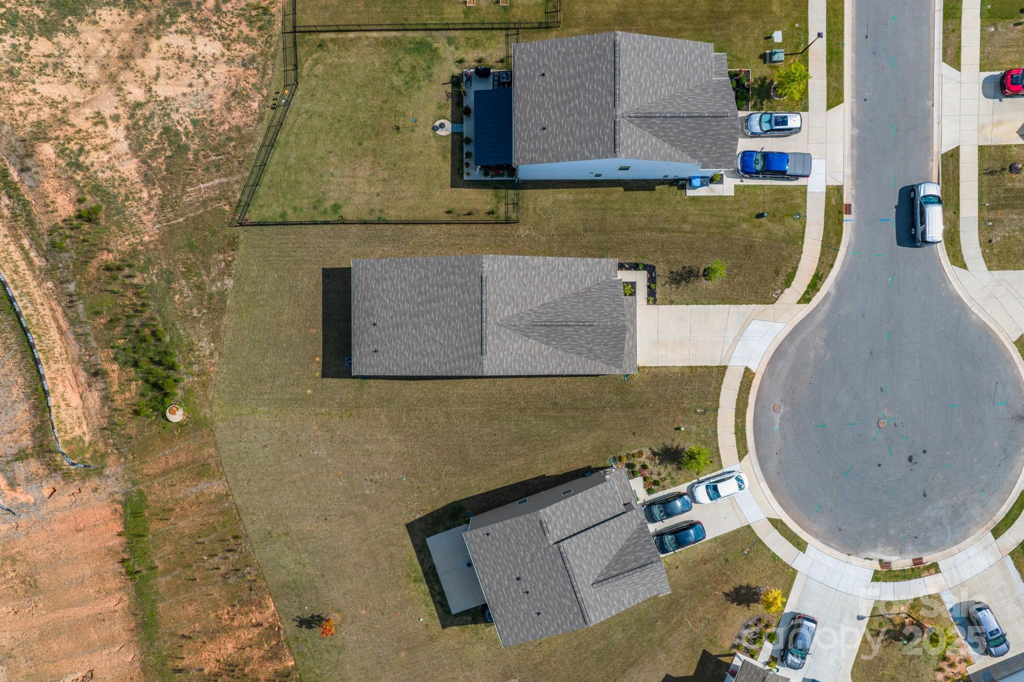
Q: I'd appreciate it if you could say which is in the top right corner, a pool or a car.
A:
car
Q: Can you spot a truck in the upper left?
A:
No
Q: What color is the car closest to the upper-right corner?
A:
red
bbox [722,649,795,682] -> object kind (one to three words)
house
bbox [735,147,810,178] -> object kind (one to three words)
truck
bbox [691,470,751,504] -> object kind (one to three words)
car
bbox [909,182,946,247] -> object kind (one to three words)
car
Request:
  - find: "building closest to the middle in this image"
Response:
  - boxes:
[351,255,637,377]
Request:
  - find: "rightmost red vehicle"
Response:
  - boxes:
[998,69,1024,96]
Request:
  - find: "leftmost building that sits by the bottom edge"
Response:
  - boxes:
[461,463,671,649]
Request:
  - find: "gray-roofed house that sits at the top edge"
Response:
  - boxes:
[511,33,739,180]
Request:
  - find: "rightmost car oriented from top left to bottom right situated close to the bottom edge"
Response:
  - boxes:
[968,603,1016,660]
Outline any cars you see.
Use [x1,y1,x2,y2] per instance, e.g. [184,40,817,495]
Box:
[968,603,1016,660]
[652,518,710,554]
[909,182,946,247]
[691,470,751,504]
[781,614,820,672]
[639,489,697,525]
[998,69,1024,96]
[742,107,801,137]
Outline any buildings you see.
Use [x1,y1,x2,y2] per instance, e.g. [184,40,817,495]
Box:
[722,649,795,682]
[461,463,671,649]
[996,670,1024,682]
[511,33,739,180]
[351,255,637,377]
